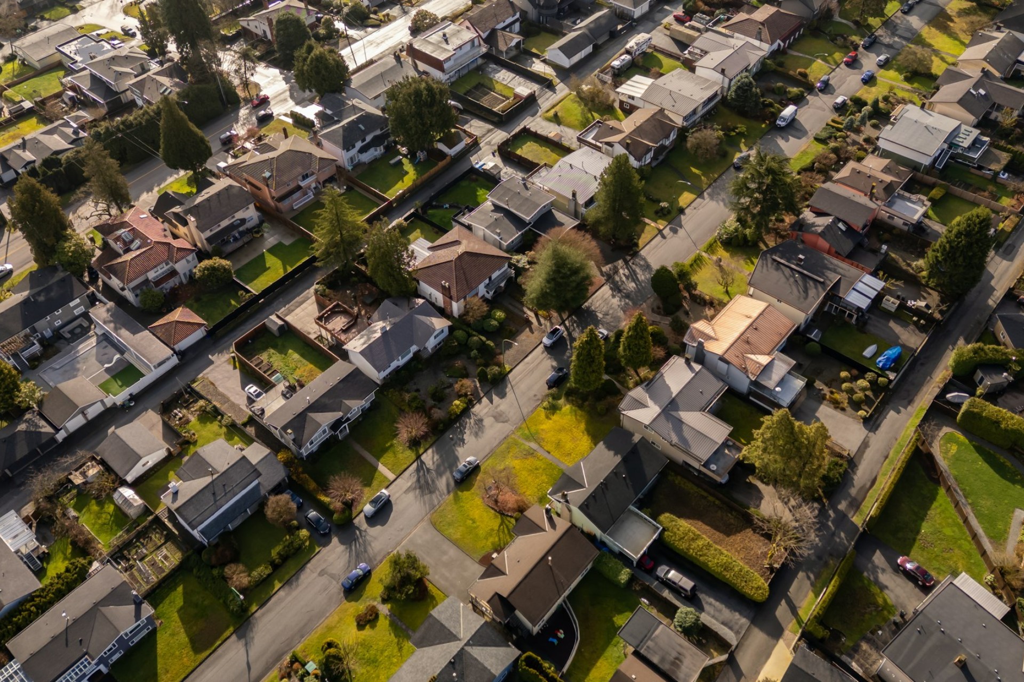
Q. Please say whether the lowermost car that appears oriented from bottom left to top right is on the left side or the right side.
left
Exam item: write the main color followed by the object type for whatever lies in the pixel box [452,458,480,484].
gray car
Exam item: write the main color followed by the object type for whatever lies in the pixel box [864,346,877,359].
gray boat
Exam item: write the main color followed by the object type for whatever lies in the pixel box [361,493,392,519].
gray car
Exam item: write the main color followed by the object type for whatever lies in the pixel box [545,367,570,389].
black car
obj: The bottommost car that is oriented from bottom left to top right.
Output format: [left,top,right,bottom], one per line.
[340,564,372,593]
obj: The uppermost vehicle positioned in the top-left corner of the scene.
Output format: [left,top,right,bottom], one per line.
[118,22,139,37]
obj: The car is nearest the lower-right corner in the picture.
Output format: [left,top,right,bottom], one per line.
[897,559,934,586]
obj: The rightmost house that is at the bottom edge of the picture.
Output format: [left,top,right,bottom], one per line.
[872,571,1024,682]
